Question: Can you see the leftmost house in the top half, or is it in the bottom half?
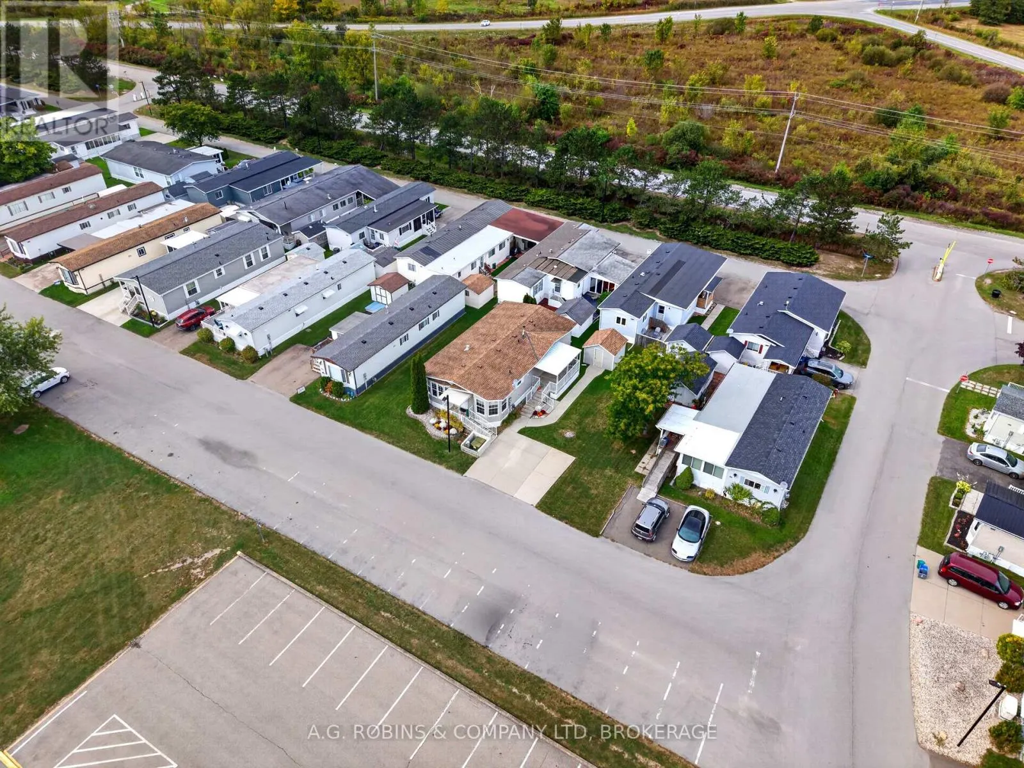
top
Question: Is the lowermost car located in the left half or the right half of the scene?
right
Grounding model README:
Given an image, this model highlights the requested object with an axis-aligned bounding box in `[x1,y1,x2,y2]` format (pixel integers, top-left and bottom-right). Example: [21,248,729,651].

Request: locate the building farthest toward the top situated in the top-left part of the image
[0,83,38,122]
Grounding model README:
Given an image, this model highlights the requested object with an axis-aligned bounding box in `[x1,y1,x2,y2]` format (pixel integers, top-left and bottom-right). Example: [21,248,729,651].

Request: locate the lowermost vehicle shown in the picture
[941,552,1024,612]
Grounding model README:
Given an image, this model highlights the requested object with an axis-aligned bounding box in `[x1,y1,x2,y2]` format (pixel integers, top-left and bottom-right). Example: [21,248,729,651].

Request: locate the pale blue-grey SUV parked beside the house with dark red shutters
[801,353,856,388]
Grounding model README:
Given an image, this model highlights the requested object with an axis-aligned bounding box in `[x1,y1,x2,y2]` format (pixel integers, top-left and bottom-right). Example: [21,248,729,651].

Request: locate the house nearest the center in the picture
[427,303,583,443]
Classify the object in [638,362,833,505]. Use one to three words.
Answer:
house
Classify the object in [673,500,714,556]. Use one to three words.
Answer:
car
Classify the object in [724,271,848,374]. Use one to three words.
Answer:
house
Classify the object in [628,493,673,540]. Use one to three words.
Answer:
car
